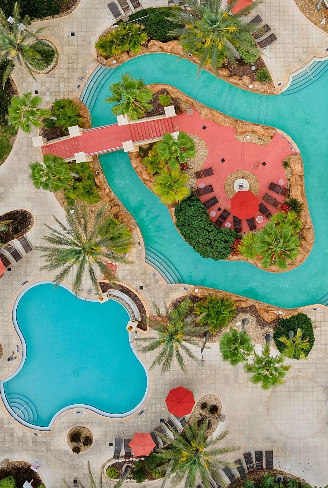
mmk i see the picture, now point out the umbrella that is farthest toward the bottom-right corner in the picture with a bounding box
[165,384,196,416]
